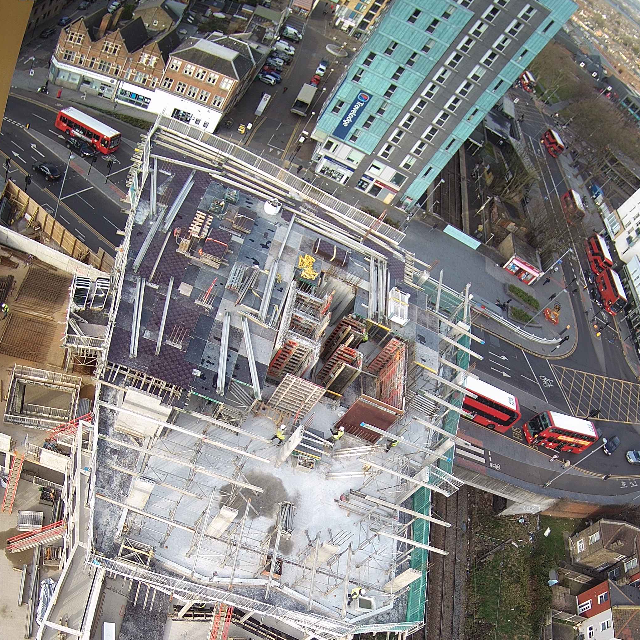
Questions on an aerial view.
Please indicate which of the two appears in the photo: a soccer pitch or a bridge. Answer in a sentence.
Of the two, only a bridge appears.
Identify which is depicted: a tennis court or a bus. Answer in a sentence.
This aerial view contains a bus.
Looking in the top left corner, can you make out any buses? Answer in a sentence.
Yes, a bus can be seen in the top left corner.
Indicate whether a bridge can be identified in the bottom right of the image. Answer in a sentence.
Yes, a bridge shows up in the bottom right of the image.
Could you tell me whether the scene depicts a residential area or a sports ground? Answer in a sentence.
This image shows a residential area.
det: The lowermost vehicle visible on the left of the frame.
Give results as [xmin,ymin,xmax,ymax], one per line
[33,165,61,183]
